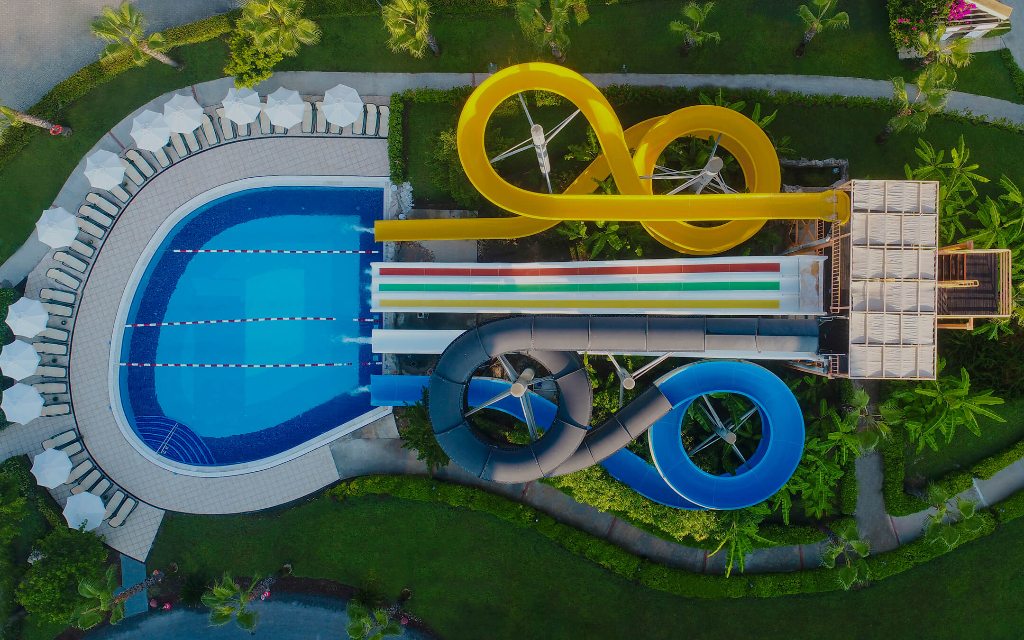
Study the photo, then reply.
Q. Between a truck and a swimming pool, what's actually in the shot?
swimming pool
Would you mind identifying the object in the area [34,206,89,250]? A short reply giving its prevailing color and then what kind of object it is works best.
white umbrella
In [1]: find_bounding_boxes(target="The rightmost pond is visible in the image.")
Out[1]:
[777,158,848,192]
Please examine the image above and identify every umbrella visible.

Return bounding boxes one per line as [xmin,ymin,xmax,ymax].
[83,148,132,191]
[7,296,61,336]
[34,206,89,250]
[62,489,112,529]
[221,85,261,125]
[0,338,55,381]
[130,111,171,151]
[263,86,306,128]
[31,447,85,490]
[2,384,57,425]
[321,85,362,126]
[162,91,203,134]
